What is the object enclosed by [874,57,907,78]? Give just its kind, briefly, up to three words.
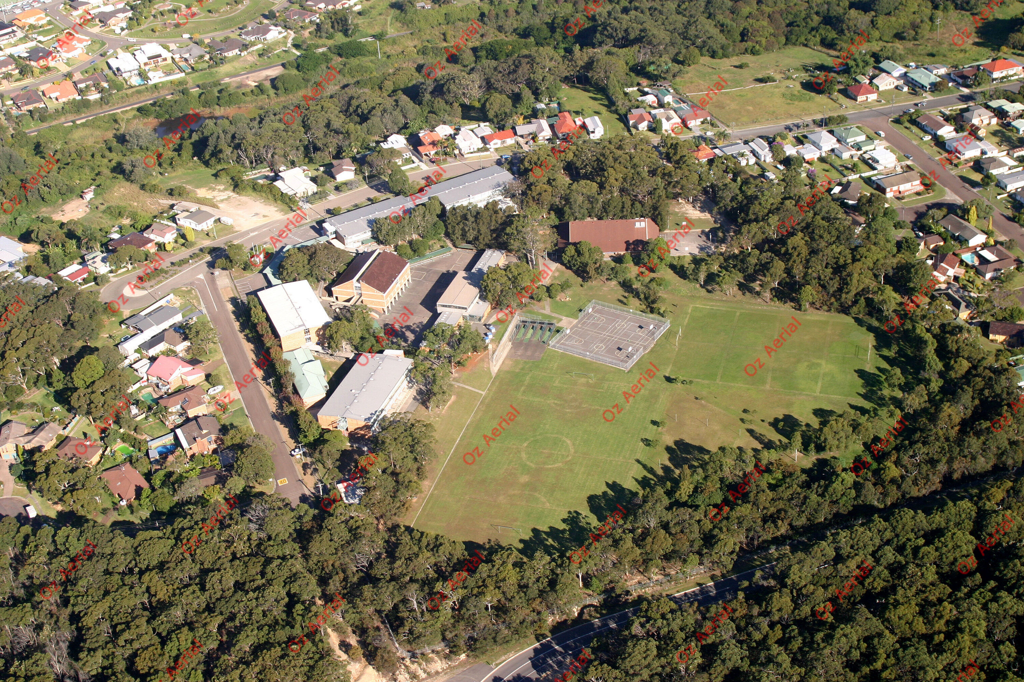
shed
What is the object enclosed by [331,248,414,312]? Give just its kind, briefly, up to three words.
building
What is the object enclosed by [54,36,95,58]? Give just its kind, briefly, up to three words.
house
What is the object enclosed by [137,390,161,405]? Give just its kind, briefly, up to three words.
swimming pool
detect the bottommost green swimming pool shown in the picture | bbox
[111,442,140,457]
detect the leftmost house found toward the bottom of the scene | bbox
[0,420,63,453]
